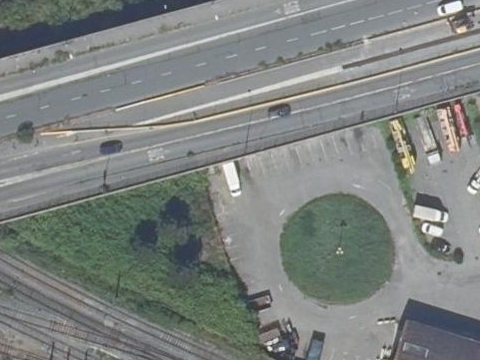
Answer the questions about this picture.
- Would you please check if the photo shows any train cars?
No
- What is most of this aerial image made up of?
paved ground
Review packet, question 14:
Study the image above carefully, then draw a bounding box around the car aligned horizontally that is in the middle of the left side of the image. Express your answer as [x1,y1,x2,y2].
[99,142,123,155]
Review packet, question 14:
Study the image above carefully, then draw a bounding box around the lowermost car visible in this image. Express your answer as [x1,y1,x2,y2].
[430,239,452,253]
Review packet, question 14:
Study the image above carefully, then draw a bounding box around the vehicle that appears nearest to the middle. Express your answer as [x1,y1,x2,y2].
[222,162,243,198]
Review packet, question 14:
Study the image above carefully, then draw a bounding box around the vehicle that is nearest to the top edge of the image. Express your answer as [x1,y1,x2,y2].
[437,0,464,15]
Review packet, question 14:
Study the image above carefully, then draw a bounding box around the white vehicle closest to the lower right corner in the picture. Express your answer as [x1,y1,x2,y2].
[420,223,444,239]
